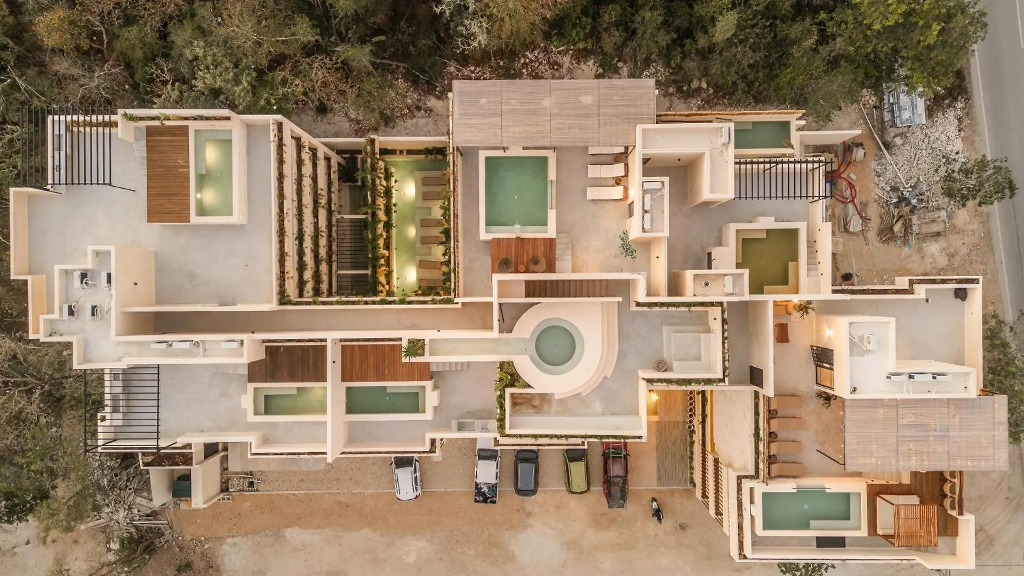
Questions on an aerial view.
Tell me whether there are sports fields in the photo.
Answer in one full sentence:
No, this view has no sports field in it.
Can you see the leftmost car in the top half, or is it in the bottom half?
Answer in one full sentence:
The leftmost car is in the bottom half of the image.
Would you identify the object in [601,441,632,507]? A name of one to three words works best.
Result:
vehicle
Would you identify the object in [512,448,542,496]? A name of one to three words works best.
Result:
car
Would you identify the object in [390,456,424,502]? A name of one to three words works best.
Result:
car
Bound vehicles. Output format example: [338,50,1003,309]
[472,437,502,504]
[649,496,666,523]
[390,456,424,502]
[562,441,591,493]
[601,441,632,507]
[512,448,542,496]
